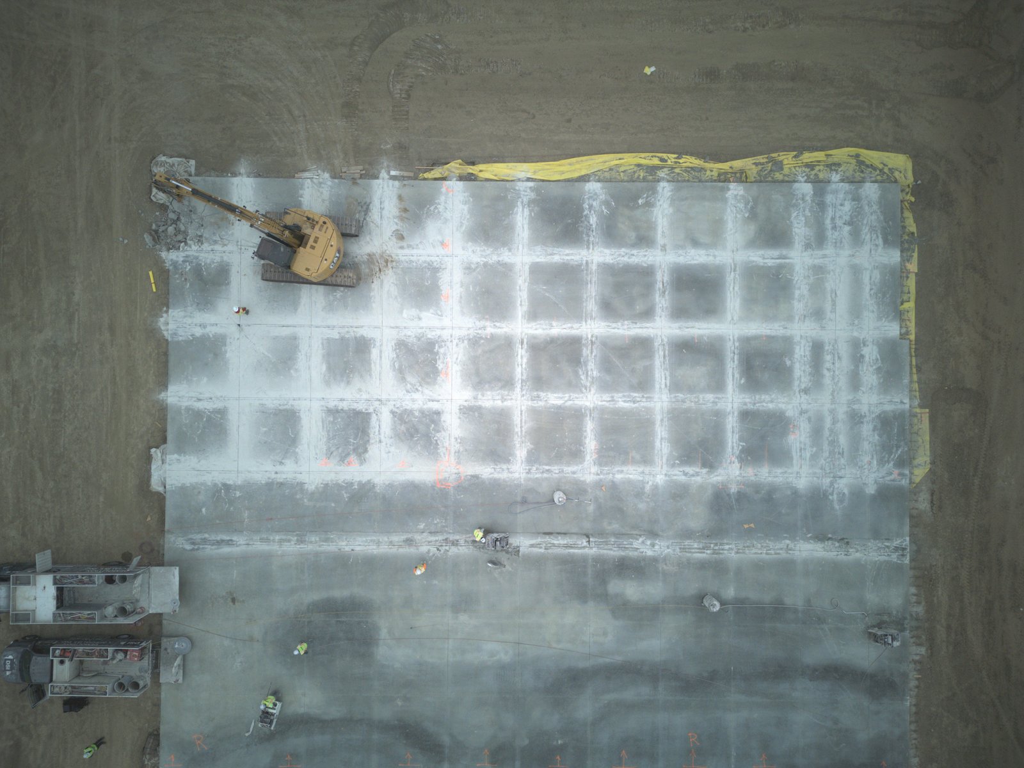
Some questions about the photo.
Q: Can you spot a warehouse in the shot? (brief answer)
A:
No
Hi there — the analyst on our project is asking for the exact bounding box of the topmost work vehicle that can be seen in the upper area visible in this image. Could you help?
[149,167,364,285]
